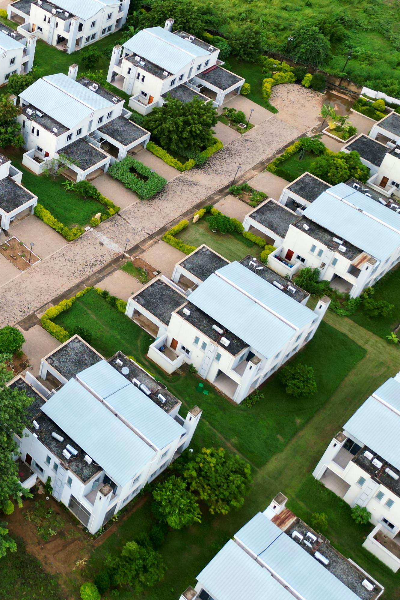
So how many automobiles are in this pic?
zero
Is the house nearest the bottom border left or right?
right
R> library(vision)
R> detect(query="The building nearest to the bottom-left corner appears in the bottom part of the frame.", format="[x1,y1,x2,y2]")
[0,335,202,531]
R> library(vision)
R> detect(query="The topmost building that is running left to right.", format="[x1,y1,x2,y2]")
[7,0,132,53]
